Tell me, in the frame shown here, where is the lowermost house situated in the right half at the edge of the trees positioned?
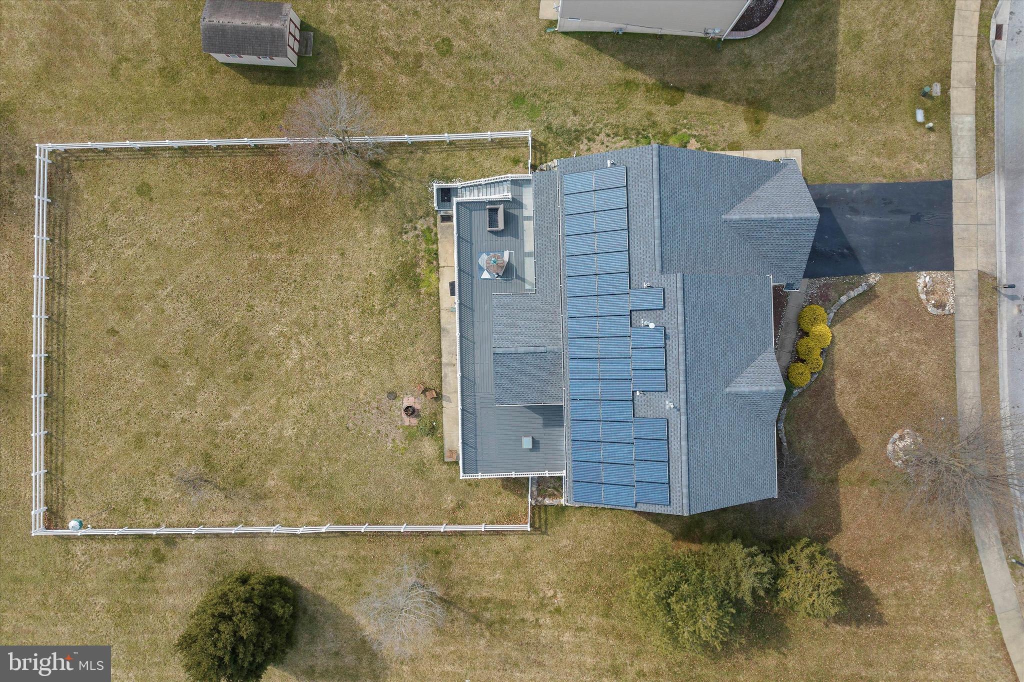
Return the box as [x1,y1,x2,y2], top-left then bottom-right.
[492,144,821,518]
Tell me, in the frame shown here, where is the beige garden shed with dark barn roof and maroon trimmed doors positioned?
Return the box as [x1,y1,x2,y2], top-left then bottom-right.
[198,0,299,67]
